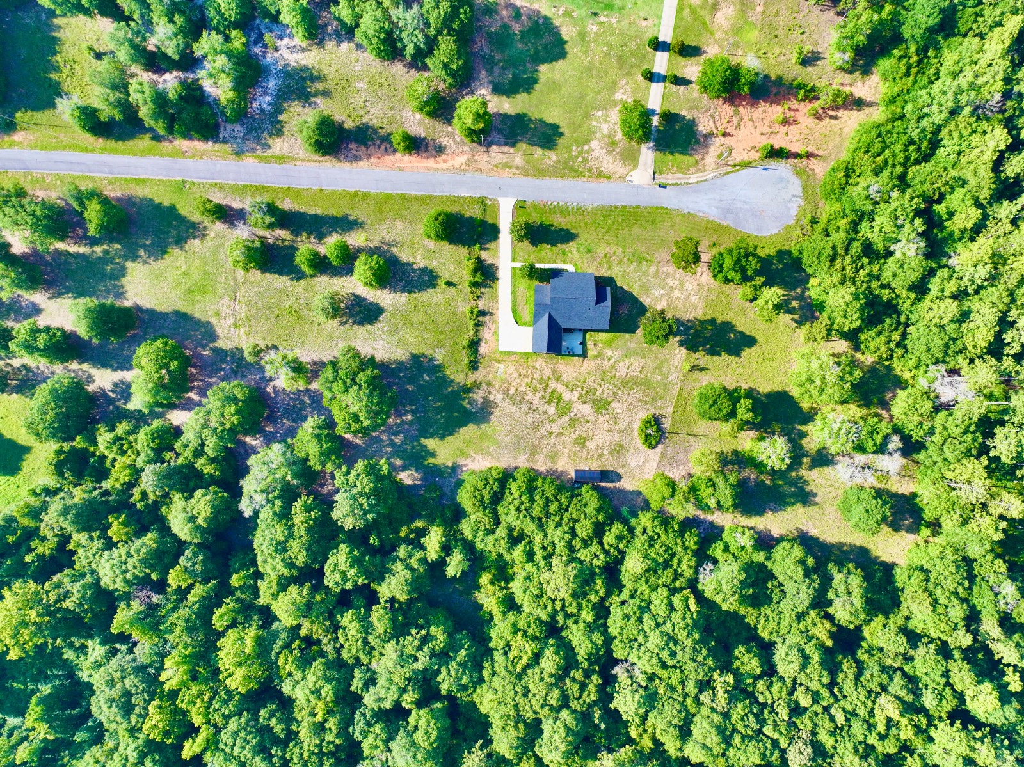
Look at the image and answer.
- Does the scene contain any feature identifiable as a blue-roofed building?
Yes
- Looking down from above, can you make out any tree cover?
Yes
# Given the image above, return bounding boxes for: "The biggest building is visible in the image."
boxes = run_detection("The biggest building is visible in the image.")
[532,271,611,353]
